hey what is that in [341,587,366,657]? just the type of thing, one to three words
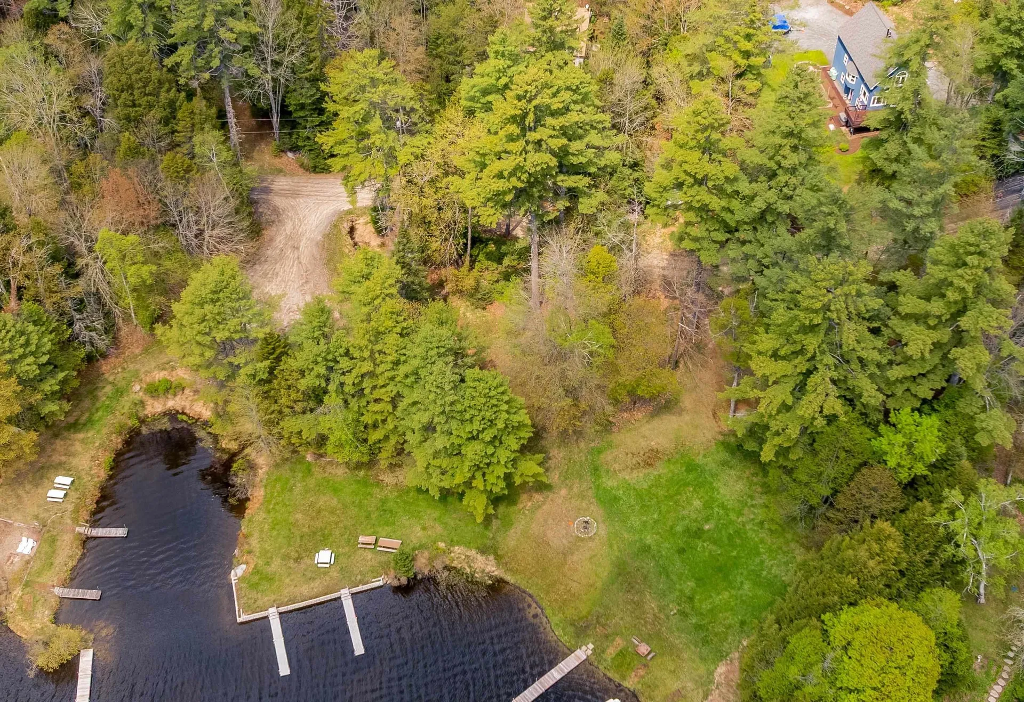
pier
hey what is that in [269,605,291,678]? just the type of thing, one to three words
pier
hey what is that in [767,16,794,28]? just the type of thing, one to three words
boat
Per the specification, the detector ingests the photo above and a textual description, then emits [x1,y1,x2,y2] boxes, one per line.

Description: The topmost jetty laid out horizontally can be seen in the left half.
[77,524,128,539]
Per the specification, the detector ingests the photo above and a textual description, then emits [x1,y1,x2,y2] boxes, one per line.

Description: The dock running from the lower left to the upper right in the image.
[510,648,589,702]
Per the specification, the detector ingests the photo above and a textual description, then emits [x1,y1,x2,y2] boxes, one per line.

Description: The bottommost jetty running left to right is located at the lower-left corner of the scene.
[53,587,102,603]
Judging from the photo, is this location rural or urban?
rural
